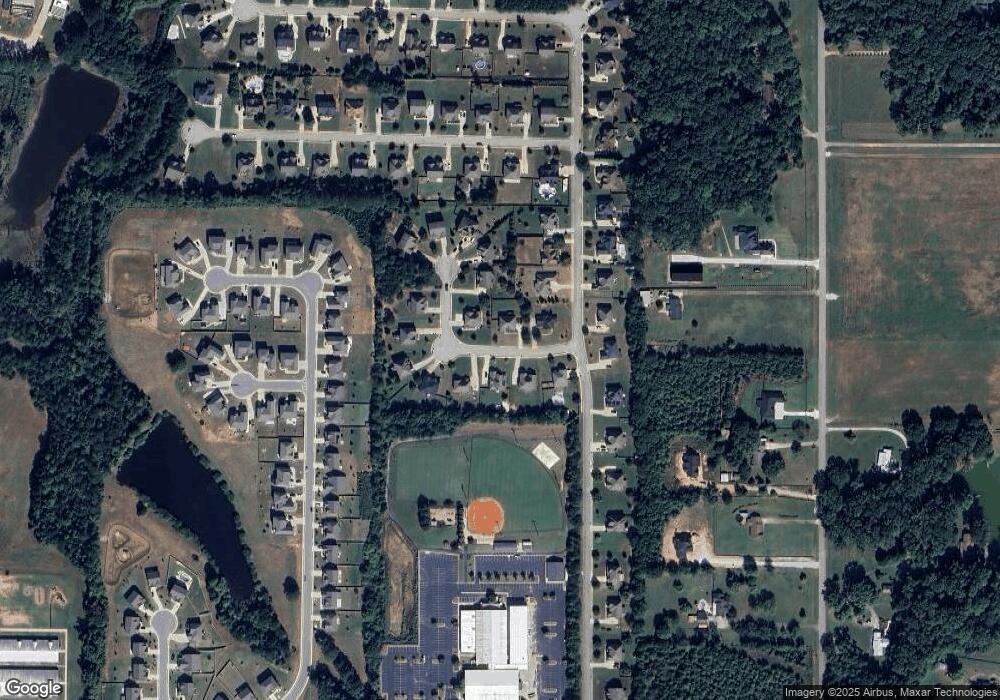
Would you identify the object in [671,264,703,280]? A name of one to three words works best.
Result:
barn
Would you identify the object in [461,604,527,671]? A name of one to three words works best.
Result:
building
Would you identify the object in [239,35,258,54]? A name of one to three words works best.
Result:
house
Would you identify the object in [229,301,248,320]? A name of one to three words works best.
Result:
house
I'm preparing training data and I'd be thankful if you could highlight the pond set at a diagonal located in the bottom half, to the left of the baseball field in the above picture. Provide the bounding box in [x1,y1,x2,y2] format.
[117,416,254,597]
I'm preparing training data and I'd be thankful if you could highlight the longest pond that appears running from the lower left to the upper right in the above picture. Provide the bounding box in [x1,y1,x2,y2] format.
[8,65,119,228]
